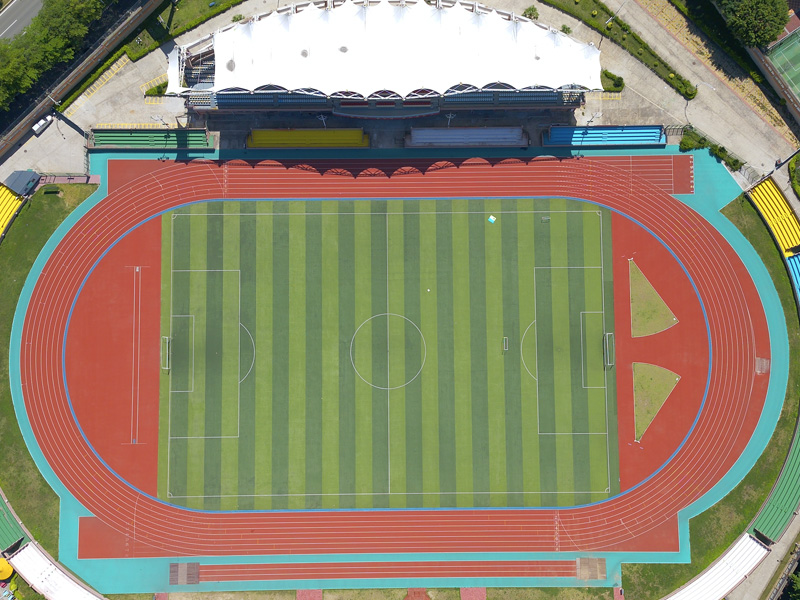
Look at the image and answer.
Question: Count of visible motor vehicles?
1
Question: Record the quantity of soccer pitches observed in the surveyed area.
one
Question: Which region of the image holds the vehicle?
top left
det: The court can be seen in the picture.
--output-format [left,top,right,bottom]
[762,28,800,102]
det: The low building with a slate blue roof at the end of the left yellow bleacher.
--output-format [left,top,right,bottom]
[4,170,48,198]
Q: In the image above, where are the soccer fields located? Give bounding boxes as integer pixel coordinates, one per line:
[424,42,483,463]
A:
[156,198,620,510]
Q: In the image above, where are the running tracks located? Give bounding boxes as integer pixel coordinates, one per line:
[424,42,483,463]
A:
[9,146,789,593]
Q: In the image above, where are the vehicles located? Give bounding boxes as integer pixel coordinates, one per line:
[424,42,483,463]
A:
[30,113,52,134]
